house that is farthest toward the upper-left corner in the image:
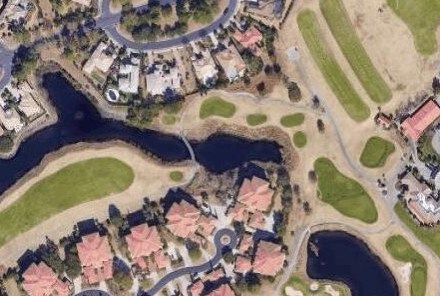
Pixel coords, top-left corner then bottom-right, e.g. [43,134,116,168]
[0,0,30,28]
